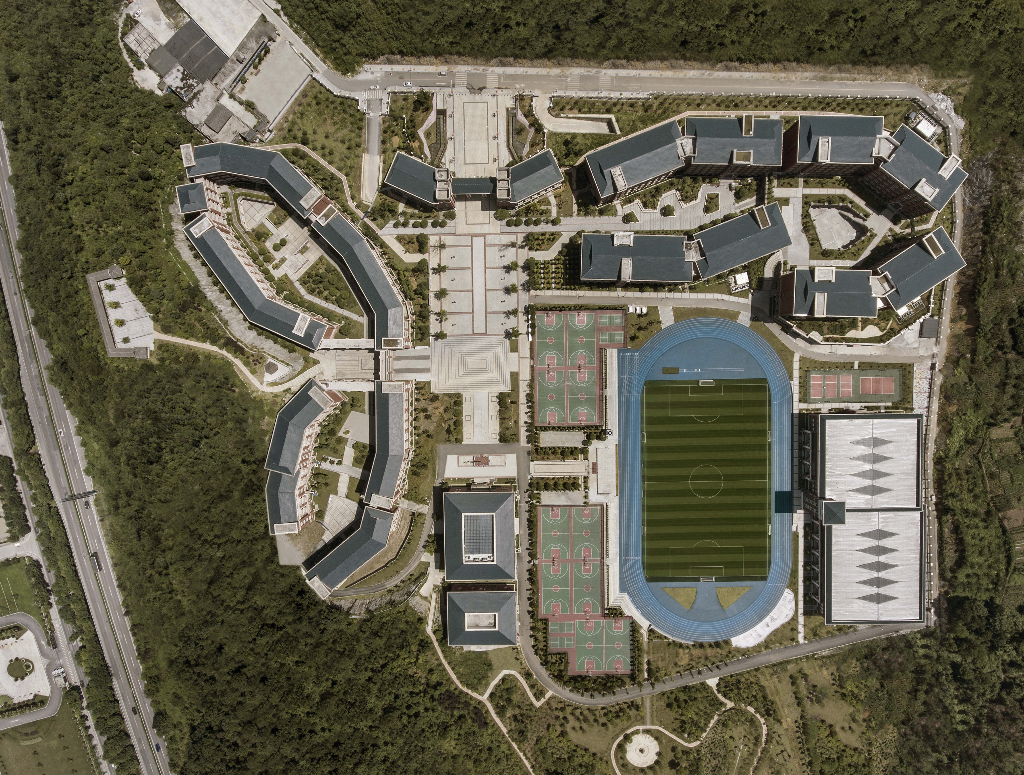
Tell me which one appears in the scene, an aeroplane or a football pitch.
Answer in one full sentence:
It is a football pitch that can be seen here.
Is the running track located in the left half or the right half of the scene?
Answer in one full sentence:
You can find the running track on the right side of the picture.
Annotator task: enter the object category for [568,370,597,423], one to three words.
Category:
basketball court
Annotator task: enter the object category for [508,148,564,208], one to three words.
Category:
building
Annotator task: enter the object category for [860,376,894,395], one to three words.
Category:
sports court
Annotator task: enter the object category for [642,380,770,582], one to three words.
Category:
soccer field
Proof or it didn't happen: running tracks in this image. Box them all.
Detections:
[617,316,792,642]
